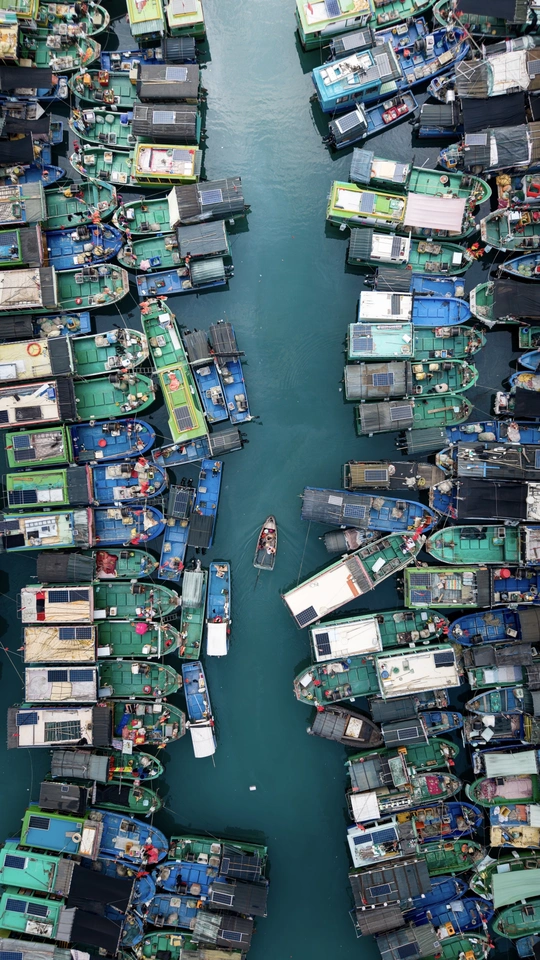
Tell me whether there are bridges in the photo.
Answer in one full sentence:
No, I can't see a single bridge in this photo.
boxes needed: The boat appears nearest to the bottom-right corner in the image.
[515,936,540,956]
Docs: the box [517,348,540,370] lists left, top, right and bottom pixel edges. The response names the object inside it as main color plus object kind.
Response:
blue boat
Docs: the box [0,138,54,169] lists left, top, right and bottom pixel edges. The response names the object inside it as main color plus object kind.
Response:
black boat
